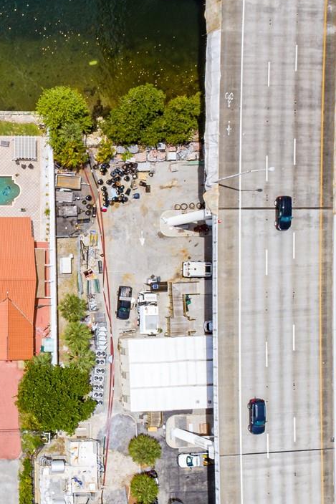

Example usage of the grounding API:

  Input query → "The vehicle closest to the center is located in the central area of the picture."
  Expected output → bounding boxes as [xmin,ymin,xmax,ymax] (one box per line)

[178,262,213,278]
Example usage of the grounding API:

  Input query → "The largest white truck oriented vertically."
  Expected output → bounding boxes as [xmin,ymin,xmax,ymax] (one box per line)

[137,286,160,337]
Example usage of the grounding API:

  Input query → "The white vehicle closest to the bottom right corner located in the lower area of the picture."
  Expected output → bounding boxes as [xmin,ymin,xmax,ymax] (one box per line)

[172,454,212,470]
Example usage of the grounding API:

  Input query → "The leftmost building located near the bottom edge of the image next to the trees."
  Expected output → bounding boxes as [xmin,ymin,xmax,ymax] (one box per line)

[39,439,97,504]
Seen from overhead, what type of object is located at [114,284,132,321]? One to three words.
vehicle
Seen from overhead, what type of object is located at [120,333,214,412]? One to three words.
building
